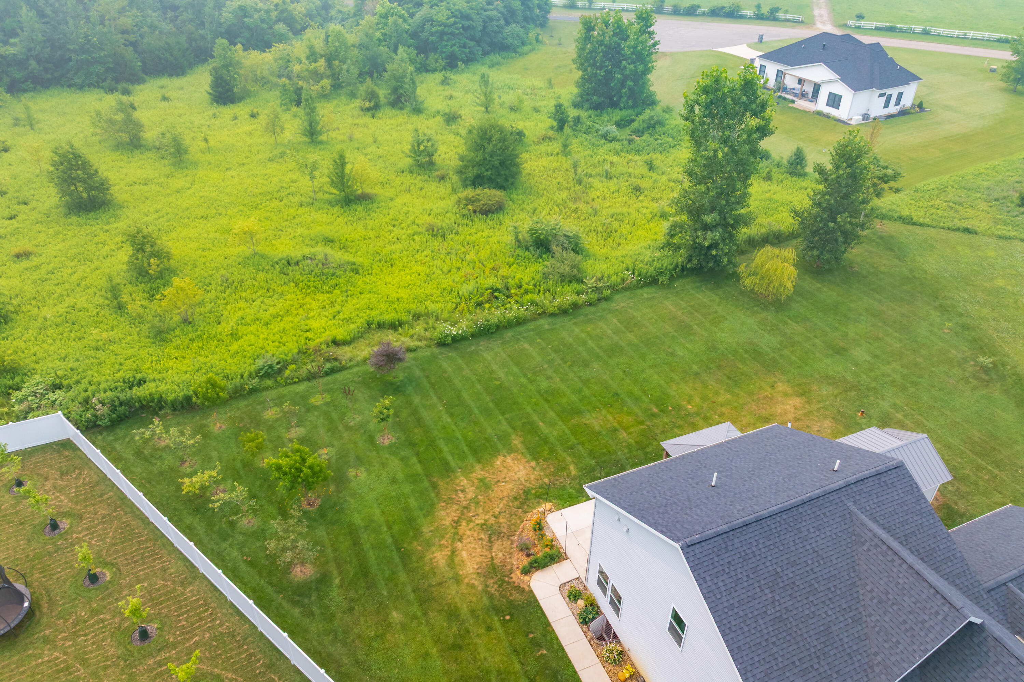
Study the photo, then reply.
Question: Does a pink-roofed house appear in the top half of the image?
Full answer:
No, I can find no pink-roofed house in the top half of the image.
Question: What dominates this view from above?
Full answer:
The scene is dominated by grass.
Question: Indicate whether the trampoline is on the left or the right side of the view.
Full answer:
The trampoline sits on the left side.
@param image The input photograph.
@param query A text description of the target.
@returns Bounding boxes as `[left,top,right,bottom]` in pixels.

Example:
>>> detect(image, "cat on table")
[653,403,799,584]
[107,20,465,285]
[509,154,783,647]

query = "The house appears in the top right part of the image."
[755,33,924,119]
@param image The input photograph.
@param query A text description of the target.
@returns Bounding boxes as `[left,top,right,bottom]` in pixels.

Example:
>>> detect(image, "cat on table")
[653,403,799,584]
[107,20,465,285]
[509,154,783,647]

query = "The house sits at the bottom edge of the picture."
[581,418,1024,682]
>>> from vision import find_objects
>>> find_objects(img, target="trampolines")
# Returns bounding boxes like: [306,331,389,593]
[0,565,39,647]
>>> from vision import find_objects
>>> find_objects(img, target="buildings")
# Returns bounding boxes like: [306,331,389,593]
[755,33,924,119]
[581,418,1024,682]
